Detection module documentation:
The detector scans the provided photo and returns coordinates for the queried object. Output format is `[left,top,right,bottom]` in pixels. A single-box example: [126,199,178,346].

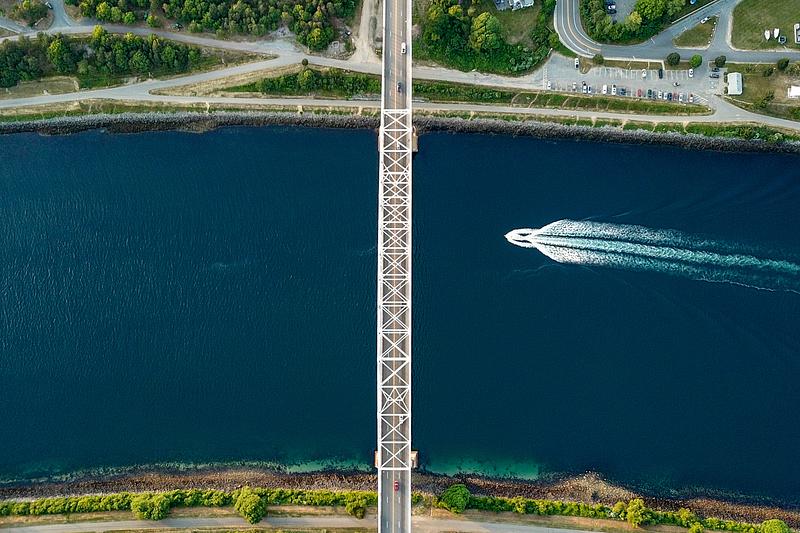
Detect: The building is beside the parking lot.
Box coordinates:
[726,72,742,95]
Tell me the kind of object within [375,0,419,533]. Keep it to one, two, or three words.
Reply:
bridge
